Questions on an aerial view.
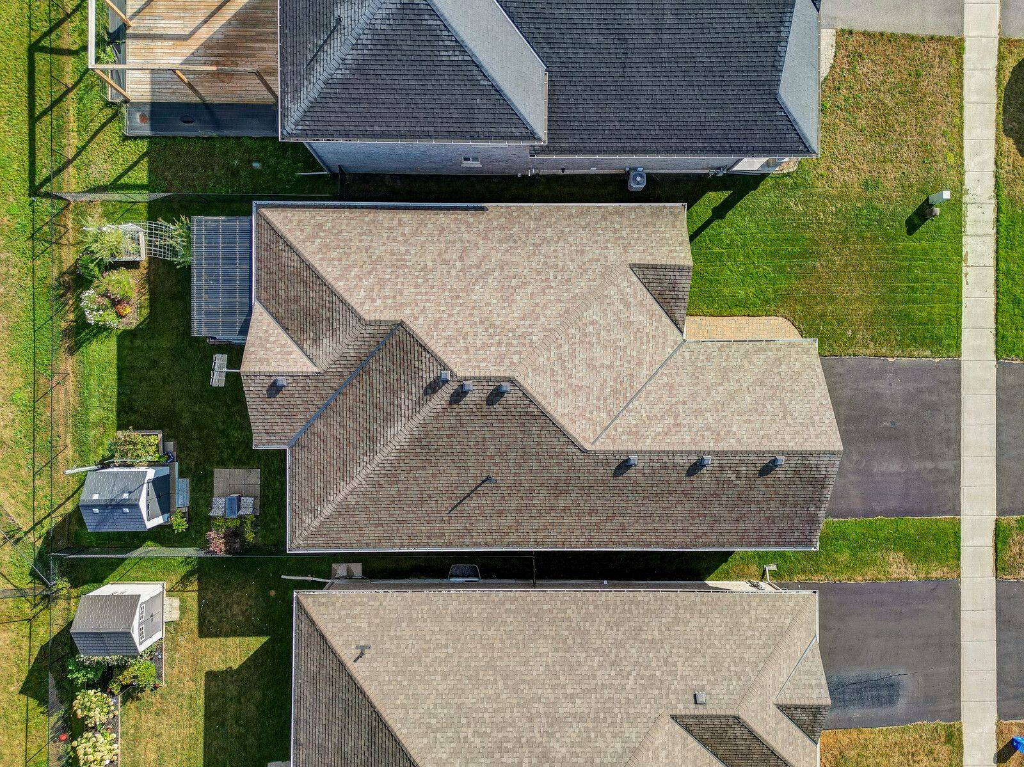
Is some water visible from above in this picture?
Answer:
No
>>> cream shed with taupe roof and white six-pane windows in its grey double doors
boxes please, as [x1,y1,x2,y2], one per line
[70,584,162,655]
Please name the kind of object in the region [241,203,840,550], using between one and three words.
house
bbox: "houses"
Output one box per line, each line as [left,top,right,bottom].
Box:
[241,203,840,550]
[282,564,832,767]
[279,0,827,178]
